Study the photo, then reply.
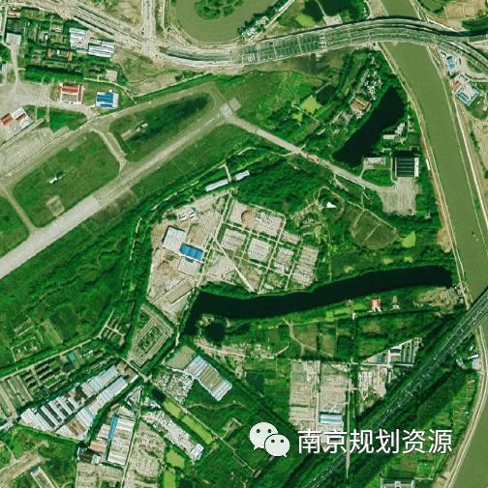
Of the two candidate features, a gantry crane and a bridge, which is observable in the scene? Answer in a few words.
bridge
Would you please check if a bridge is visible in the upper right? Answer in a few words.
Yes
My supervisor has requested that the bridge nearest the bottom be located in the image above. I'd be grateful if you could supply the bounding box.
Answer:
[305,294,488,488]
